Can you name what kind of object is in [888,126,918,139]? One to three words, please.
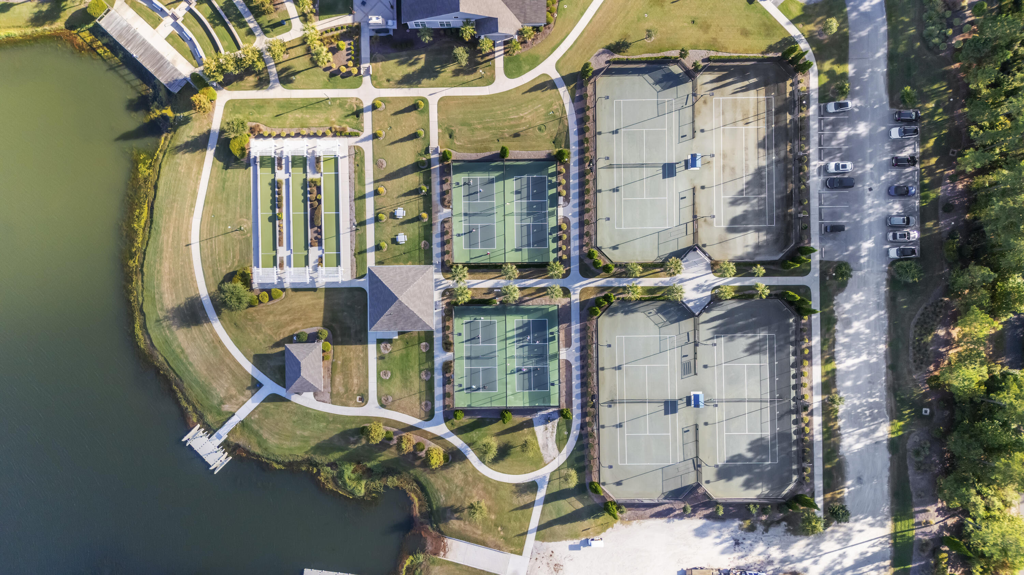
vehicle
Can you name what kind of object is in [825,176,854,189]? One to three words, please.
vehicle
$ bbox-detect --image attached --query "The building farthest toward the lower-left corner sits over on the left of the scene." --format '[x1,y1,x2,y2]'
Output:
[285,342,326,393]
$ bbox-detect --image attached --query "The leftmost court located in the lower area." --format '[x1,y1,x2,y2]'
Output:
[454,306,507,408]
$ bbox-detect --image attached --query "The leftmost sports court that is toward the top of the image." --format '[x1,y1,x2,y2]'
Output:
[452,160,505,263]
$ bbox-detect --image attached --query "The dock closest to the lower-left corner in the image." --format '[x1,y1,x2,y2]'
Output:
[182,426,233,474]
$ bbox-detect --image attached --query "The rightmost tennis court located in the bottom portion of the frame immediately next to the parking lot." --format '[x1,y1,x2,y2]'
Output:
[697,300,797,498]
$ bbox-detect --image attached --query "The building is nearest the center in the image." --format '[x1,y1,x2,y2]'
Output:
[368,265,435,332]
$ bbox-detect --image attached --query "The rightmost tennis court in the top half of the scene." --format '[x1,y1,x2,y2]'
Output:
[693,62,794,260]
